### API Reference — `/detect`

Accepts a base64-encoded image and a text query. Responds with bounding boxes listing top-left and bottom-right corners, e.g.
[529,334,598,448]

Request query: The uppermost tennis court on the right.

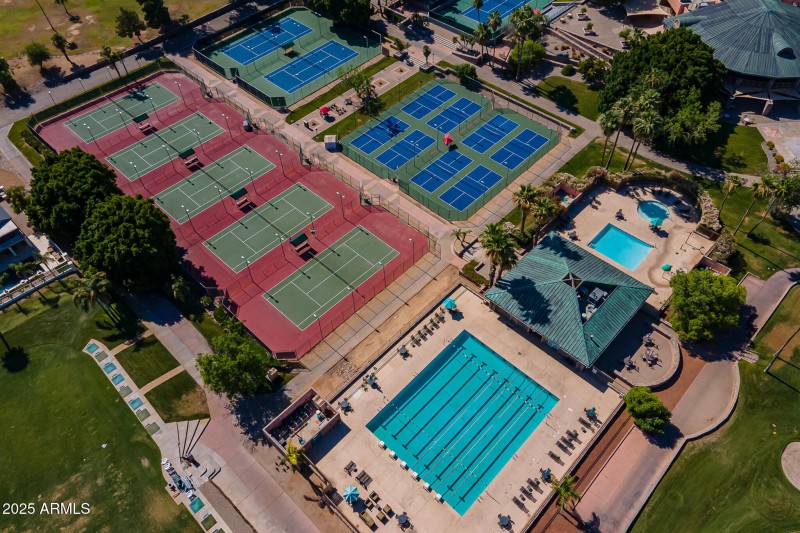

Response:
[432,0,559,44]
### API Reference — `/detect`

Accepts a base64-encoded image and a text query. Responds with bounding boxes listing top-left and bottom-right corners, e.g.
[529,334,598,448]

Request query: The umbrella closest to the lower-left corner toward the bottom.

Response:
[341,483,360,502]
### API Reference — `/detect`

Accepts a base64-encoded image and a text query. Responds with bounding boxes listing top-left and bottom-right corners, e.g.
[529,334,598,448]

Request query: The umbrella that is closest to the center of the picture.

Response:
[442,295,458,309]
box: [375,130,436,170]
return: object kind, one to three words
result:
sports court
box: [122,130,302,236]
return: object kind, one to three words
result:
tennis court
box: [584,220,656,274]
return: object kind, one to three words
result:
swimming pool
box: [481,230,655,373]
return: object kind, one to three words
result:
building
